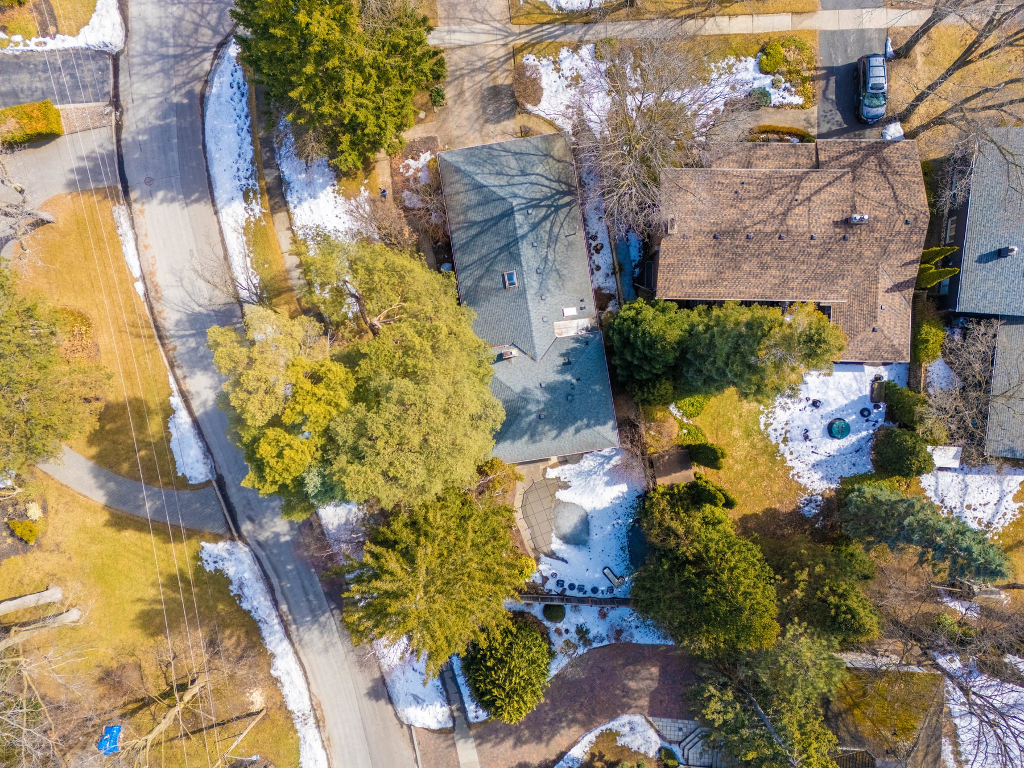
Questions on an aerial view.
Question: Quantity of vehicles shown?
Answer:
1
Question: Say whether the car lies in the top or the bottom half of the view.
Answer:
top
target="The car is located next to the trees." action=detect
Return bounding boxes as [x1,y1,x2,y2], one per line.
[853,53,889,124]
